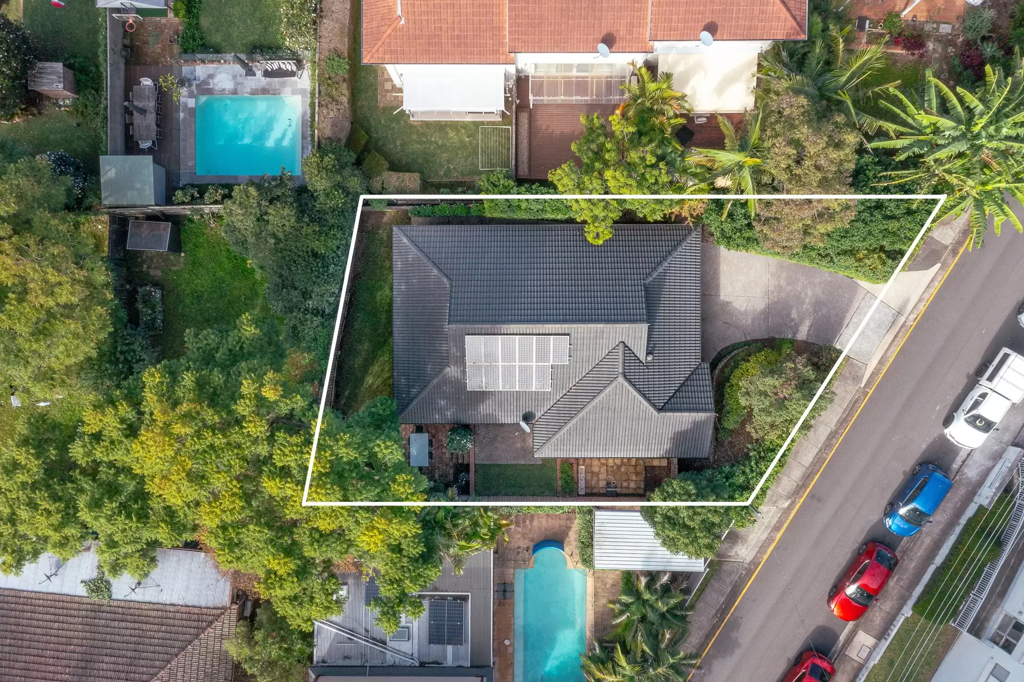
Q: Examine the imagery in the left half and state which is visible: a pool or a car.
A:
pool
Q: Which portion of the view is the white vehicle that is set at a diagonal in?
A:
right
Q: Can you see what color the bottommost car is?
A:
red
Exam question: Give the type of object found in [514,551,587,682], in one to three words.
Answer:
swimming pool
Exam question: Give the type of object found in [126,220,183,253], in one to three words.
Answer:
shed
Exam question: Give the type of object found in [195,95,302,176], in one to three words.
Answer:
swimming pool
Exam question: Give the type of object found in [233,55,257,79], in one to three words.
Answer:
umbrella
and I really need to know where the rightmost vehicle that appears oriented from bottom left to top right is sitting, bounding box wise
[949,343,1024,446]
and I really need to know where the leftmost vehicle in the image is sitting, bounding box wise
[785,652,835,682]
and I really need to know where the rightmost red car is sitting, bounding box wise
[828,541,901,626]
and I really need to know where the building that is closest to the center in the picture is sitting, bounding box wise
[391,223,717,460]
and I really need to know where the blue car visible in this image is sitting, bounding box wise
[886,461,956,542]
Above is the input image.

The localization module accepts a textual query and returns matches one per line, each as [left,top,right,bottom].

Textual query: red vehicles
[828,541,901,626]
[785,652,835,682]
